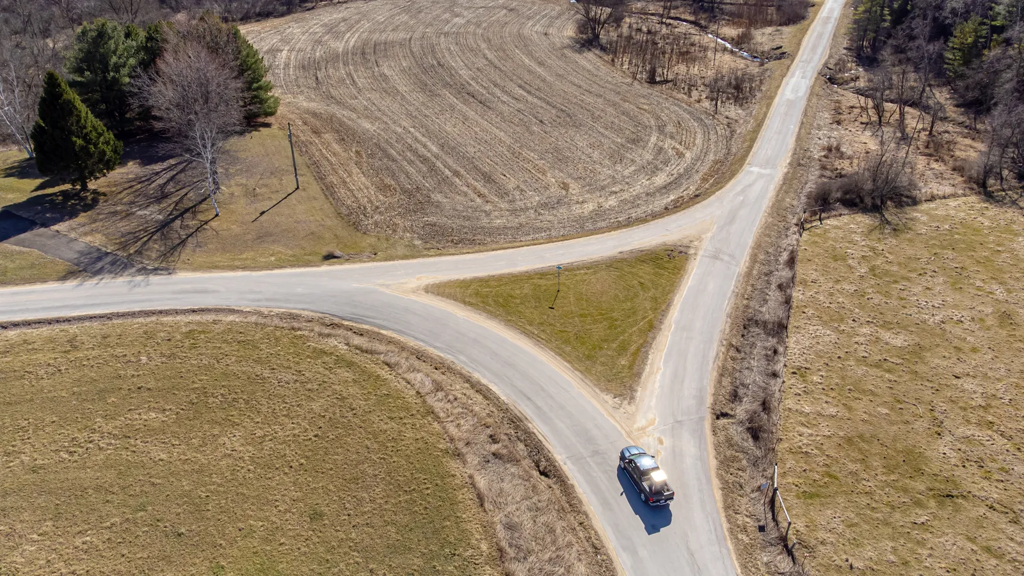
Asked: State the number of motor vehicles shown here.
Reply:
one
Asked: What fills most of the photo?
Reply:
farmland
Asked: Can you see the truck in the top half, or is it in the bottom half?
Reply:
bottom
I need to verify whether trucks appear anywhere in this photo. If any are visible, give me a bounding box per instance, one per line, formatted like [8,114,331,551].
[620,445,673,503]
